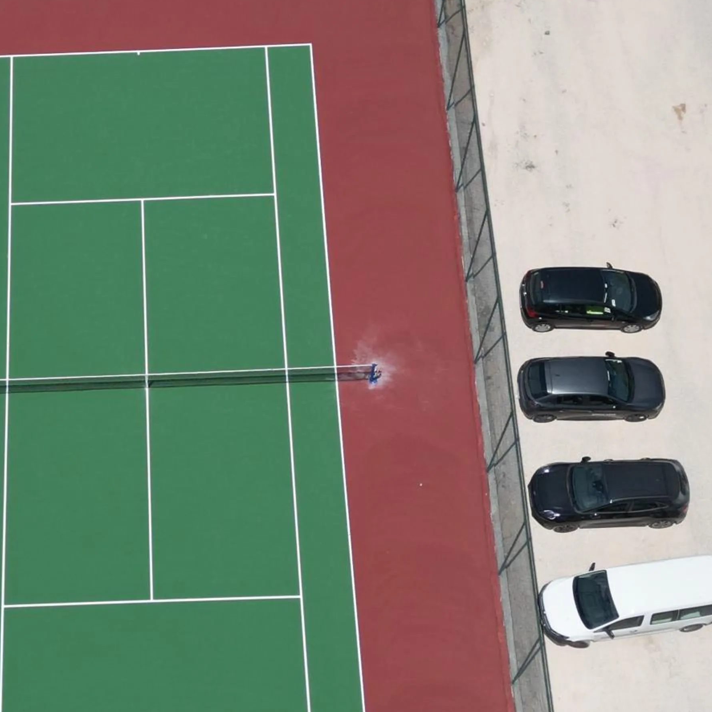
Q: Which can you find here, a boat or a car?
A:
car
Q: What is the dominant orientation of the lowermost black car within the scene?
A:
from side to side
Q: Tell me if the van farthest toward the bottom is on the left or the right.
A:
right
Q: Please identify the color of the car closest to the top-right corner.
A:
black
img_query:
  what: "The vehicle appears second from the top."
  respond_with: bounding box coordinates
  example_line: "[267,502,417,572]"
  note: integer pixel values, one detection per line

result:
[518,348,665,421]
